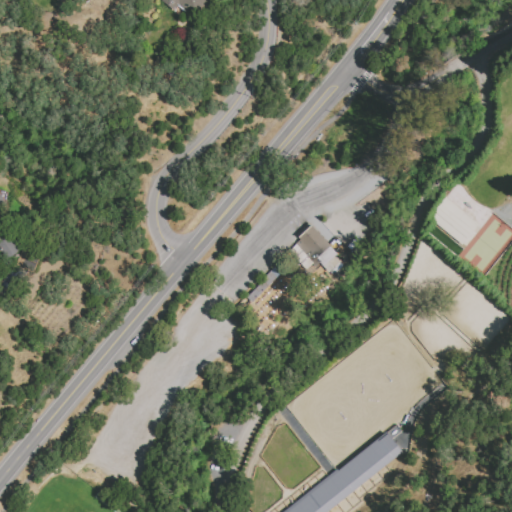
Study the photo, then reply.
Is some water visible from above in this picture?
No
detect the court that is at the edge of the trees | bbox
[460,214,512,274]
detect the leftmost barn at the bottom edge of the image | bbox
[286,426,404,512]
